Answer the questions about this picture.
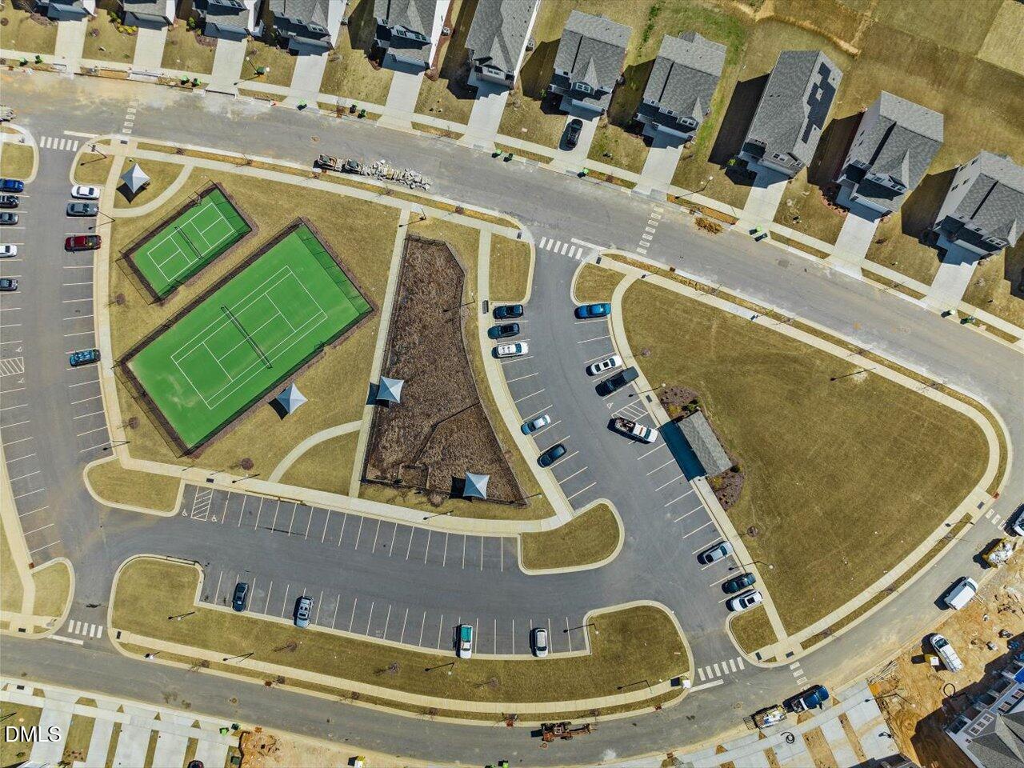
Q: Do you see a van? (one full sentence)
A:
Yes, there's a van here.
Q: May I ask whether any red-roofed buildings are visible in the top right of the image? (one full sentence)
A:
No, I can find no red-roofed building in the top right of the image.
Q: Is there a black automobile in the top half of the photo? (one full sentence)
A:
Yes, a black automobile can be seen in the top half of the photo.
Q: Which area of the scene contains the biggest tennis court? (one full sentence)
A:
The biggest tennis court appears toward the left of the photo.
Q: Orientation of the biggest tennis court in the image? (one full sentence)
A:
In this picture, the biggest tennis court is oriented diagonally.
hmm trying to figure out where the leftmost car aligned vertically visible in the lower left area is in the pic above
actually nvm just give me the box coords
[232,583,248,612]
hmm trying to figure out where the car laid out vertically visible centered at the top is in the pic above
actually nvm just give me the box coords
[566,117,583,148]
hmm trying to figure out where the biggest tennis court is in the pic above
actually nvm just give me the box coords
[126,223,372,449]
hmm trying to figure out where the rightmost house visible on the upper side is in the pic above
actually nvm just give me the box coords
[933,149,1024,258]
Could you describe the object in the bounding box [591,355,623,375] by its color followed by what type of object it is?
white car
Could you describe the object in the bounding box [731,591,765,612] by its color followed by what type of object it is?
white car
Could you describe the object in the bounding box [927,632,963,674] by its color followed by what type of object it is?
white van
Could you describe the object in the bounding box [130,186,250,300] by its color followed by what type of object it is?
green sports court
